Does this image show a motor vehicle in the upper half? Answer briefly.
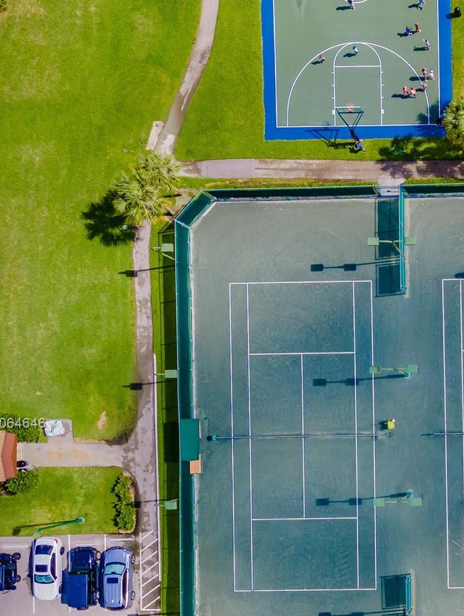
No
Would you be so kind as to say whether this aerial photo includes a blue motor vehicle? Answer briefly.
Yes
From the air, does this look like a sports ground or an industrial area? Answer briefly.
sports ground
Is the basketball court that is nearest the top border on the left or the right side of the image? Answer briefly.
right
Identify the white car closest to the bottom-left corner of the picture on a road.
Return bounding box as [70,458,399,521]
[31,537,64,600]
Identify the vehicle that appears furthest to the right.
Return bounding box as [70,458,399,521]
[102,547,135,610]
